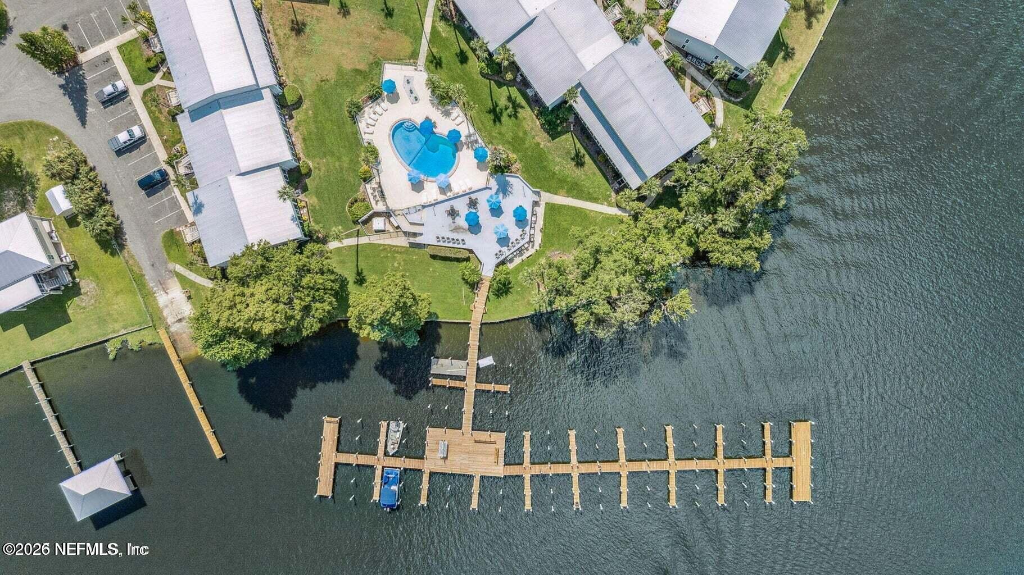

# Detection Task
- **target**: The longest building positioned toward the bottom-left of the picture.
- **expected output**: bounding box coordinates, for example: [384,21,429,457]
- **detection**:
[59,448,150,522]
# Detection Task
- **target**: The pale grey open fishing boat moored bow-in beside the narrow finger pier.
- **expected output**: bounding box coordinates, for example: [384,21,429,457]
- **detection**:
[388,419,404,454]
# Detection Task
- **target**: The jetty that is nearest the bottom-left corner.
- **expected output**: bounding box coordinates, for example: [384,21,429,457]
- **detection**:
[18,360,84,475]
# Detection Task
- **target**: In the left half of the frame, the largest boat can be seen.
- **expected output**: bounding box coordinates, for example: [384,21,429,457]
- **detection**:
[379,467,399,511]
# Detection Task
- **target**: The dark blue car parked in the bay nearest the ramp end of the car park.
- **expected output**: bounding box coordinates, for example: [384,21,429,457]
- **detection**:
[136,170,167,189]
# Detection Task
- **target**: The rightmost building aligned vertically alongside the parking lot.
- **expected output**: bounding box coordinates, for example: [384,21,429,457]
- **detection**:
[148,0,308,267]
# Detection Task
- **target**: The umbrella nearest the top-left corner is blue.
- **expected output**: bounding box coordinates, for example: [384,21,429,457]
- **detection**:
[382,79,396,93]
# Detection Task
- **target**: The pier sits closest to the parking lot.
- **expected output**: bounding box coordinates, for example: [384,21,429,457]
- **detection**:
[155,329,228,459]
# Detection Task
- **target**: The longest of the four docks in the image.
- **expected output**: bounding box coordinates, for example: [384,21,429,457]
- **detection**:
[314,275,814,512]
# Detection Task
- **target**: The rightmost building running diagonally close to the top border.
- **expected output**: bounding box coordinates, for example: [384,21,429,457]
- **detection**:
[449,0,711,191]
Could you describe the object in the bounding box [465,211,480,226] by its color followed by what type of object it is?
blue umbrella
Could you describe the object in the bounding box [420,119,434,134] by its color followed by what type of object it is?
blue umbrella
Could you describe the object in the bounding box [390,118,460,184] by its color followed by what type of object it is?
blue swimming pool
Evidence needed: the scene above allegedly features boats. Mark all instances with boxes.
[388,419,404,454]
[379,467,399,511]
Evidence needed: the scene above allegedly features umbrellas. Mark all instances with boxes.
[382,79,396,93]
[494,224,509,239]
[487,194,501,208]
[465,211,480,226]
[513,207,527,221]
[447,129,461,143]
[435,173,450,188]
[473,147,488,162]
[420,119,434,134]
[407,170,421,184]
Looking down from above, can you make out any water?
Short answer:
Yes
